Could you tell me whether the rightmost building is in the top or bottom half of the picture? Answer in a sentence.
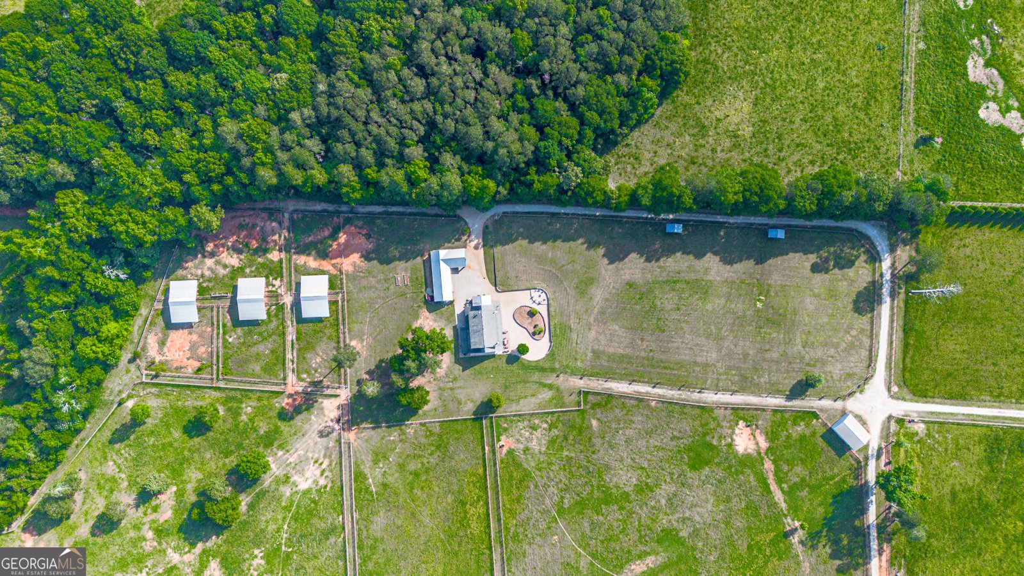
The bottom half of the photo is where the rightmost building is.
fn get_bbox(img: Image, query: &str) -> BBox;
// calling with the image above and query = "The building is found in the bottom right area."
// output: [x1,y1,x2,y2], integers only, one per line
[831,413,871,450]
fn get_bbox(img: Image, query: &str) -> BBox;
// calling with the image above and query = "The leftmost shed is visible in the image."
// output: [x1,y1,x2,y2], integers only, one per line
[168,280,201,323]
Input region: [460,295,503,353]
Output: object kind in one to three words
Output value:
house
